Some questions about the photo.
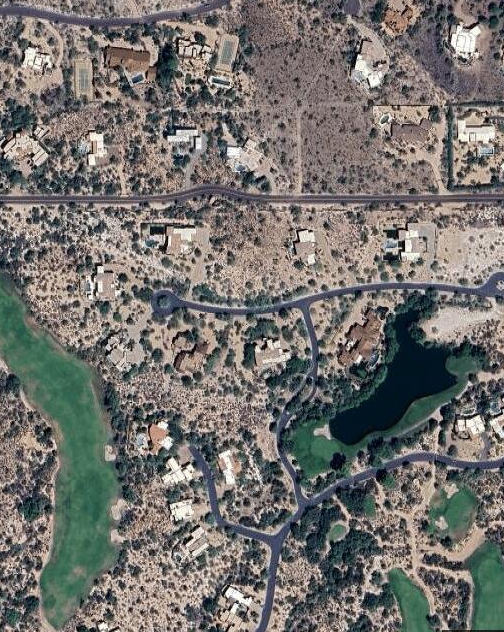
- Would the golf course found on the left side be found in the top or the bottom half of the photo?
bottom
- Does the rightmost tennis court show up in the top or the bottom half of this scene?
top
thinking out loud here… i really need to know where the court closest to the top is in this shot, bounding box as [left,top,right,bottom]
[216,34,238,71]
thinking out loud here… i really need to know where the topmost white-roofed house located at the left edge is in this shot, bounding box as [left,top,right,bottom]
[21,46,55,74]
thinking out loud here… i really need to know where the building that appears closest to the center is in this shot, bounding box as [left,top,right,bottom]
[255,338,291,366]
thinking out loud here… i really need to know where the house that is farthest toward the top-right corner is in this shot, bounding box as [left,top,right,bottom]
[449,24,483,59]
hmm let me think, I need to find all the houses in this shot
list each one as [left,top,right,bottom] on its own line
[21,46,55,74]
[174,336,210,372]
[105,336,133,372]
[148,419,175,454]
[255,338,291,366]
[166,129,202,151]
[218,448,242,485]
[167,456,195,485]
[352,39,384,90]
[166,226,197,256]
[97,621,121,632]
[338,312,383,365]
[85,265,121,303]
[184,525,211,559]
[457,414,485,435]
[457,119,496,146]
[106,46,157,82]
[170,499,194,522]
[449,24,483,59]
[384,7,414,35]
[3,132,50,168]
[488,408,504,439]
[226,139,265,173]
[294,229,316,266]
[87,132,108,167]
[219,586,253,632]
[398,230,428,263]
[390,116,434,141]
[178,39,213,62]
